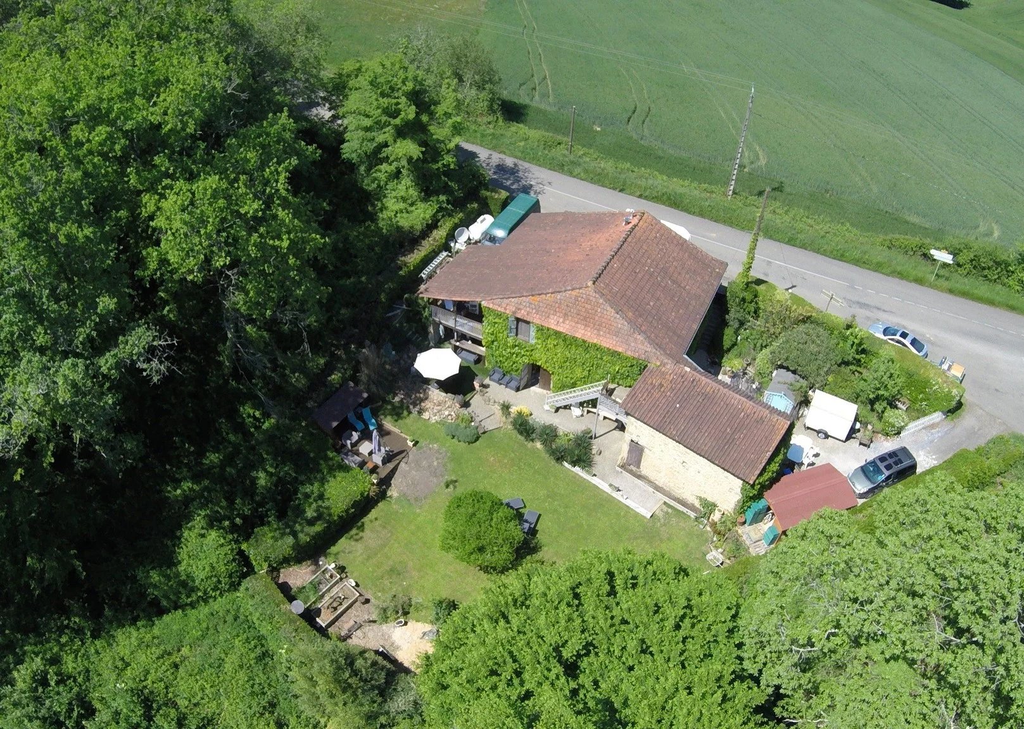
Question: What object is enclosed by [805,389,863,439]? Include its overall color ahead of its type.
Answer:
white trailer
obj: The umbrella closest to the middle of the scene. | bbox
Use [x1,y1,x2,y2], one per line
[414,350,461,398]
